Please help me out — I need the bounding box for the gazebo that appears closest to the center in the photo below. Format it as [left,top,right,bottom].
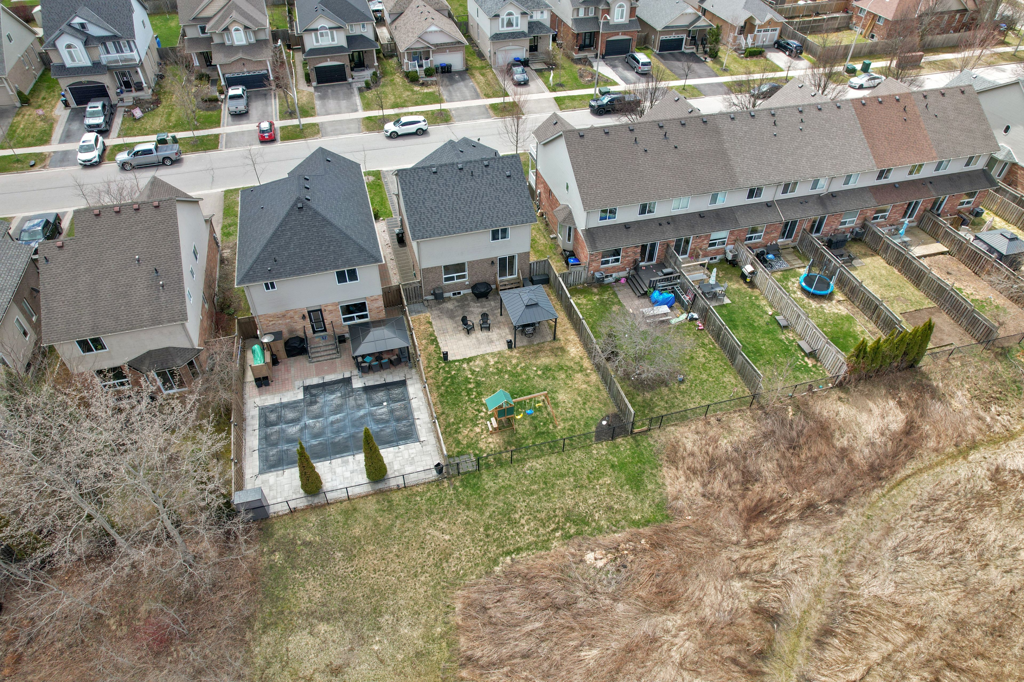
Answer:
[498,283,560,348]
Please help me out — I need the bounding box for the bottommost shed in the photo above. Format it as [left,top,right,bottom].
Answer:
[232,485,268,523]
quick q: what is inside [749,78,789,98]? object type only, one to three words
car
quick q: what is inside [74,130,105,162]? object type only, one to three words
car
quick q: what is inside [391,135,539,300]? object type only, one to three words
house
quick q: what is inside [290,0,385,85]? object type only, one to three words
house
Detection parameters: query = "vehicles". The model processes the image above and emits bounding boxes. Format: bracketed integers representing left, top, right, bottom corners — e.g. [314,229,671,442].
[12,210,59,261]
[503,61,528,82]
[749,78,789,98]
[224,81,248,110]
[113,139,184,170]
[254,117,277,139]
[80,97,113,131]
[844,69,887,88]
[590,89,647,115]
[381,112,430,138]
[74,130,105,162]
[773,35,808,55]
[619,47,653,70]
